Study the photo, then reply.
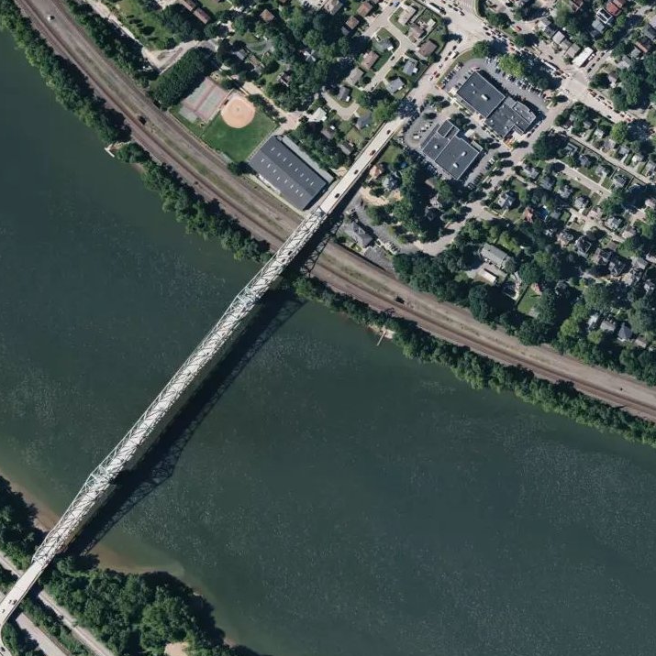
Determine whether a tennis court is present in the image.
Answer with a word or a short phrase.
Yes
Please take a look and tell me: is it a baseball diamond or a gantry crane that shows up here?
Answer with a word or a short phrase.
baseball diamond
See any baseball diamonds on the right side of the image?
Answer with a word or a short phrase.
No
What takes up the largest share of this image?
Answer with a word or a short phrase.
water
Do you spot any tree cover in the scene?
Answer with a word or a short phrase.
Yes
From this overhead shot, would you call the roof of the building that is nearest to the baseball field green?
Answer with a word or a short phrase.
No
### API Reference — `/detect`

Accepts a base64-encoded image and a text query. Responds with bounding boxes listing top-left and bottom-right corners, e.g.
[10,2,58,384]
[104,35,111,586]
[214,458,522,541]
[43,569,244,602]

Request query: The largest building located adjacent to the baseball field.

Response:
[249,136,336,211]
